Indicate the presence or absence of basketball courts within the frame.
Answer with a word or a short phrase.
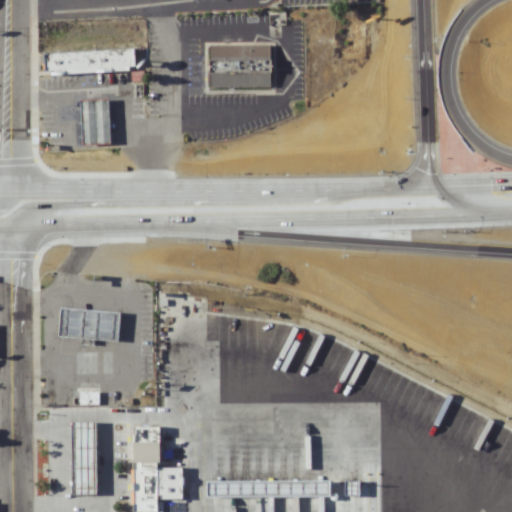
No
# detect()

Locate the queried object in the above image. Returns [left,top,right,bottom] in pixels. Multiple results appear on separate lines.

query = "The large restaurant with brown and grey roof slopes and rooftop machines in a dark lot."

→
[210,44,272,89]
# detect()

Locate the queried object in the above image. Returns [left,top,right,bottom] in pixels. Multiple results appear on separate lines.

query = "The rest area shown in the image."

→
[38,292,512,512]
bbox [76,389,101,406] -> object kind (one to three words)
building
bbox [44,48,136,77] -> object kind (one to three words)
building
